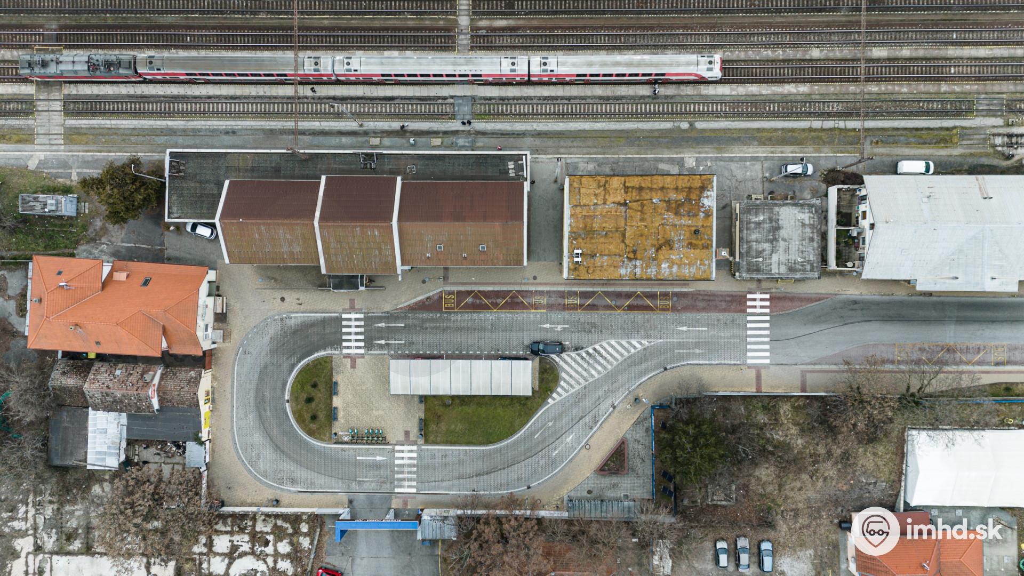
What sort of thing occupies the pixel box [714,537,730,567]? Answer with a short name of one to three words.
car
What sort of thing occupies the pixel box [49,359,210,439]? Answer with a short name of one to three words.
house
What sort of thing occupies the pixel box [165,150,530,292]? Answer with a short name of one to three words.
train station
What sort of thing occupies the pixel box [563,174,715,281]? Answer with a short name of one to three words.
building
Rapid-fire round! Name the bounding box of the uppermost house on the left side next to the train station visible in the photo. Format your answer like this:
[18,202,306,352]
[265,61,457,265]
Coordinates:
[27,254,215,357]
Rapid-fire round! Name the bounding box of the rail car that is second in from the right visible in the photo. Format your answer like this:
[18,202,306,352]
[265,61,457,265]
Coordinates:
[332,54,526,83]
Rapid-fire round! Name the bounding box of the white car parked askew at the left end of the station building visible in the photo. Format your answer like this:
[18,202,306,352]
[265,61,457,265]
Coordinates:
[185,222,217,241]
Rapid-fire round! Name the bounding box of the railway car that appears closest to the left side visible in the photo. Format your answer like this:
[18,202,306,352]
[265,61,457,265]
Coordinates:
[22,53,149,81]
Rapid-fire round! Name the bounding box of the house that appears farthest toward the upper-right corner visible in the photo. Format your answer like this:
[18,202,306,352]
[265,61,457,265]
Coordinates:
[857,175,1024,292]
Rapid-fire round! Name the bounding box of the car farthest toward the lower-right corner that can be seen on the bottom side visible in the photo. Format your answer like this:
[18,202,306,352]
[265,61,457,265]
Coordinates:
[758,538,774,572]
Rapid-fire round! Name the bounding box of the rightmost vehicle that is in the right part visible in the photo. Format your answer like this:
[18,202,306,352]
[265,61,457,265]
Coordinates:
[895,158,933,175]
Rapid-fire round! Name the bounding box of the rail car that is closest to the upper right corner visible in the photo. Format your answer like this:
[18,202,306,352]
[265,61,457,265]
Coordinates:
[526,53,721,83]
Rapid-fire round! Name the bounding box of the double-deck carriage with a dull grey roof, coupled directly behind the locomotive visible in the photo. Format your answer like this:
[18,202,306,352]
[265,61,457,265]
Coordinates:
[134,53,339,83]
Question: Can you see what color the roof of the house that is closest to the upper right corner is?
white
